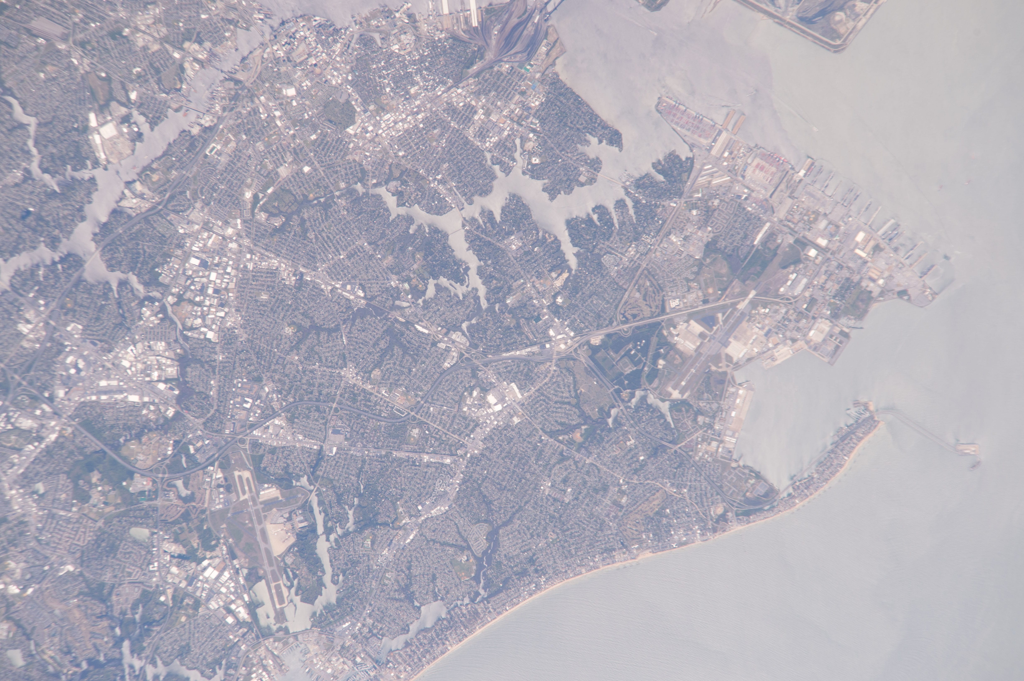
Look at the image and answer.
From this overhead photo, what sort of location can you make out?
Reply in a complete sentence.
This looks like a port.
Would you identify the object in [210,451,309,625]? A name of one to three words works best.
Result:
airport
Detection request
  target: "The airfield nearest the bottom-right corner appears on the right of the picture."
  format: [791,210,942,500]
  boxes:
[653,271,770,411]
